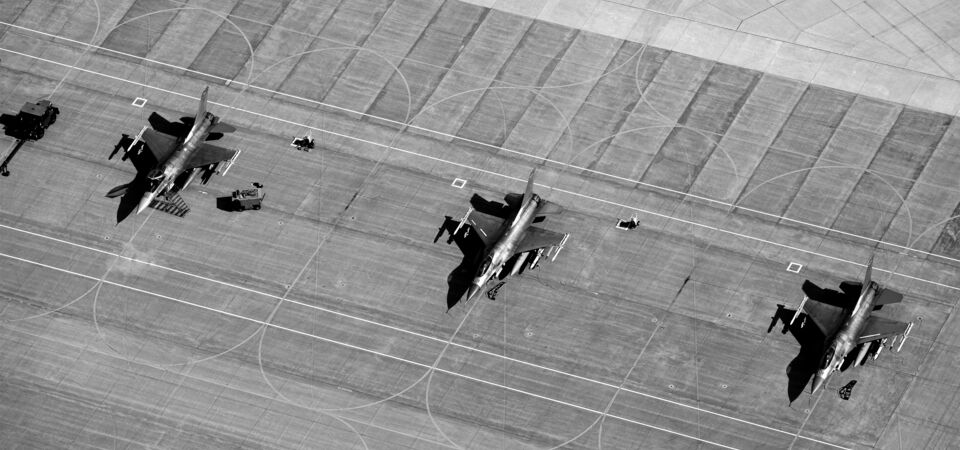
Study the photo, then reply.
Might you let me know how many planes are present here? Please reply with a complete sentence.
In total, there are 3 planes in the scene.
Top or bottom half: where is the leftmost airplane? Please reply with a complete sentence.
The leftmost airplane sits in the top half of the picture.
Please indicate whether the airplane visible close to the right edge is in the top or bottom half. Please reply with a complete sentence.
It is in the bottom half that the airplane visible close to the right edge appears.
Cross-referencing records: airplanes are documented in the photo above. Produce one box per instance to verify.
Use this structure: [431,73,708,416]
[452,170,571,302]
[790,256,914,396]
[128,87,242,216]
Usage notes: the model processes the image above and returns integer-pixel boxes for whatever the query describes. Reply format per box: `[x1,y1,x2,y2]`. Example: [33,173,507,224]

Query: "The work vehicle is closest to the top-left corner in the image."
[16,98,60,140]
